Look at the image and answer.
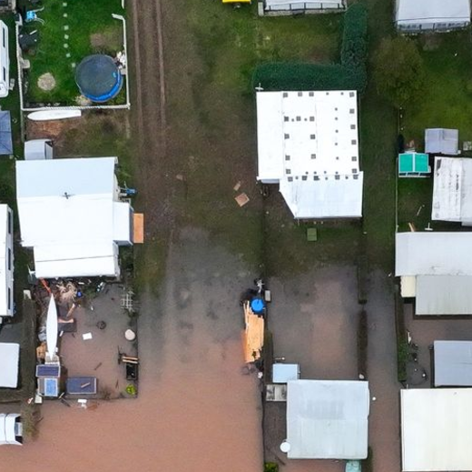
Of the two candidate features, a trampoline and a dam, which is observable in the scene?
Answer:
trampoline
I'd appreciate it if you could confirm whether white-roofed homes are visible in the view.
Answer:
Yes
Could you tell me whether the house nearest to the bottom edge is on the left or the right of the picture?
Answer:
right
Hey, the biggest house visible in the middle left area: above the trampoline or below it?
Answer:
below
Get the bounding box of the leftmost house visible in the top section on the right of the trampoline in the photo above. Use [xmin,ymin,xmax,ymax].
[255,83,363,221]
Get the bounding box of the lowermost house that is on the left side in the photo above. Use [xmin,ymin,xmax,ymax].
[16,158,135,279]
